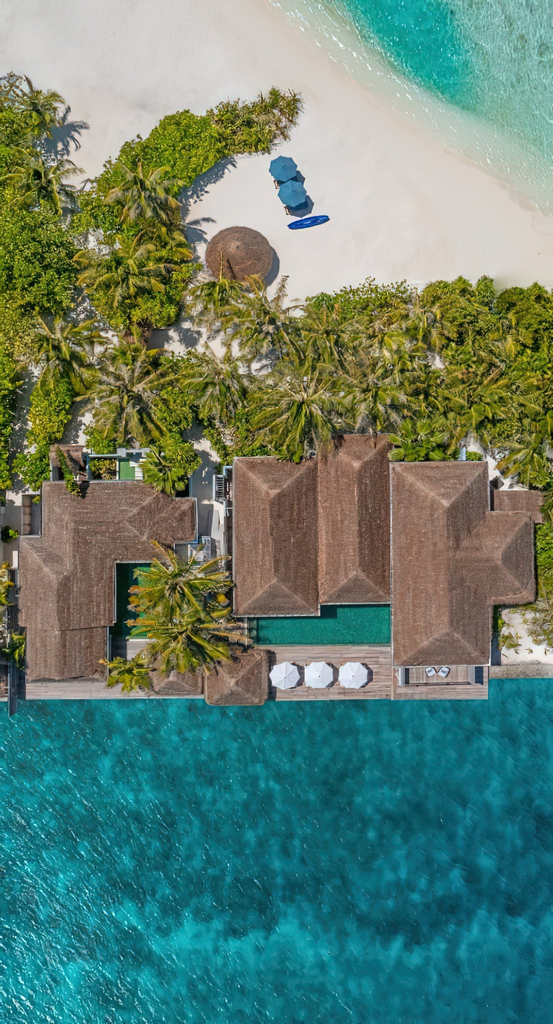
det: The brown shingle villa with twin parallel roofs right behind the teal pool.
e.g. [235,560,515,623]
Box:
[232,435,391,617]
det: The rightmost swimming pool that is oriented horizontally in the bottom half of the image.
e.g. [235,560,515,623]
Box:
[248,604,391,646]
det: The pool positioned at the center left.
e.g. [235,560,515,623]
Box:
[111,558,176,638]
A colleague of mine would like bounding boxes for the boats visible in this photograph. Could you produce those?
[288,215,330,229]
